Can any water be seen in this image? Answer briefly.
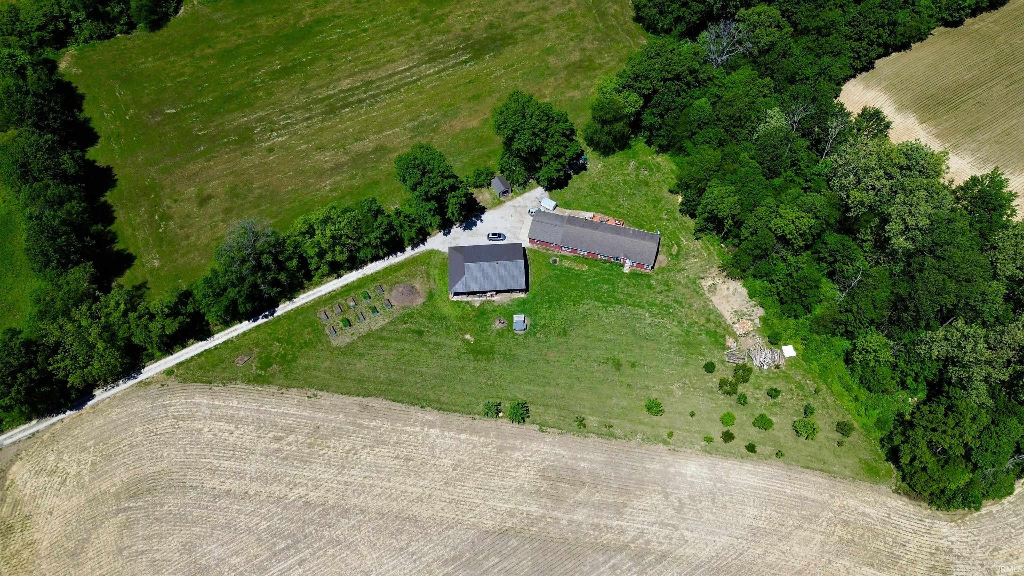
No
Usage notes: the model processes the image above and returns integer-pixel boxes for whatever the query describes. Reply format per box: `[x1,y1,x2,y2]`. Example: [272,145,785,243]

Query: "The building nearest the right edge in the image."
[528,210,660,273]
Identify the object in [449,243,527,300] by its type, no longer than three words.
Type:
barn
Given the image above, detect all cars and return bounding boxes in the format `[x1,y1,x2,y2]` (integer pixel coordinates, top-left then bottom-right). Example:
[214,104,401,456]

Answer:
[487,234,505,243]
[526,209,544,219]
